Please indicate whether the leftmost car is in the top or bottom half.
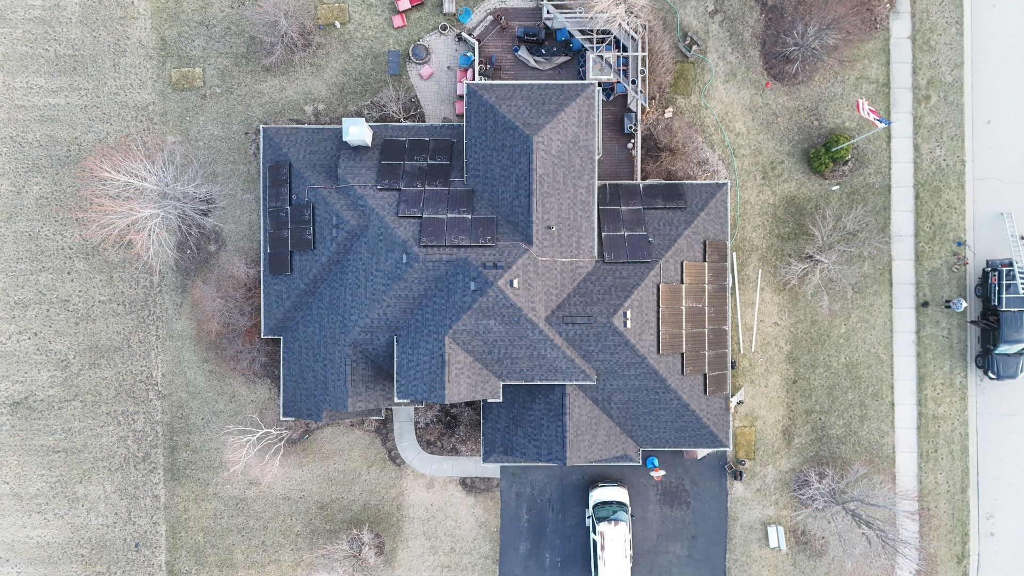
bottom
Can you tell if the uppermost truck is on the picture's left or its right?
right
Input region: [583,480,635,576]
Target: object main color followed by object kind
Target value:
white car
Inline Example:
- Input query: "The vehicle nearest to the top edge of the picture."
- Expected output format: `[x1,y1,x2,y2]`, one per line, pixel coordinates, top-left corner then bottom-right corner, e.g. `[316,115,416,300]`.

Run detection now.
[960,251,1024,379]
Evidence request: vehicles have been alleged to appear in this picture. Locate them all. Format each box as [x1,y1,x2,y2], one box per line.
[960,251,1024,379]
[583,480,635,576]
